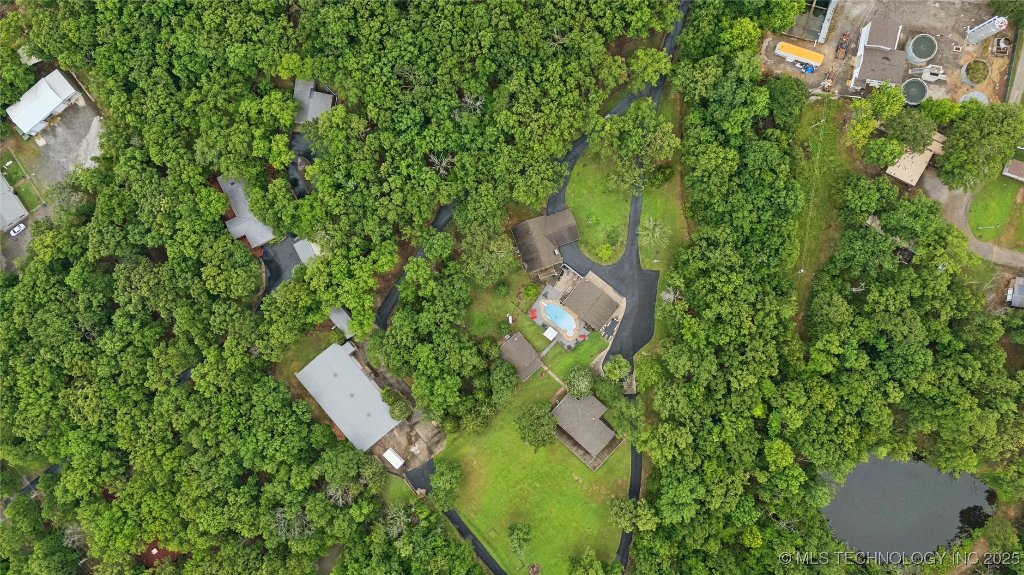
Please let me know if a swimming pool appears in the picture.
Yes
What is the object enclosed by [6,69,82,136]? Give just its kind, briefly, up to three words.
barn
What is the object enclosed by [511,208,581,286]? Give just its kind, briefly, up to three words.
house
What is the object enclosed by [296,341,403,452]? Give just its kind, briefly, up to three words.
building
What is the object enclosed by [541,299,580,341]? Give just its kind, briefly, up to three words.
swimming pool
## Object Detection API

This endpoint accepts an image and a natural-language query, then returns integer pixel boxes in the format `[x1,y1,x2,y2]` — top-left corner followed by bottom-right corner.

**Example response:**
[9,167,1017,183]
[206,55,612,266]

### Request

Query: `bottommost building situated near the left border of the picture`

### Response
[0,169,30,231]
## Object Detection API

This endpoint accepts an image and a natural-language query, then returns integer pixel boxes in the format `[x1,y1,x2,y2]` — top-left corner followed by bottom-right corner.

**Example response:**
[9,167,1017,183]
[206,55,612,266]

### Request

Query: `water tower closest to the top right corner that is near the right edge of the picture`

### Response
[963,15,1008,47]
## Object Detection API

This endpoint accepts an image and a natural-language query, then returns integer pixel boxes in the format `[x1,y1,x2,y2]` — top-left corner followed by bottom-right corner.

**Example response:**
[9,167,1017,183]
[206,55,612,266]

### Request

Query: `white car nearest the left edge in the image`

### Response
[9,223,25,235]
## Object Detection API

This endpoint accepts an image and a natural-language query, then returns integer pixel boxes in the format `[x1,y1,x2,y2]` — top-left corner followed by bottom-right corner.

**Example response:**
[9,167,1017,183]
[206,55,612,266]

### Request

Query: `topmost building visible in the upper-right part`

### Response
[850,18,907,90]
